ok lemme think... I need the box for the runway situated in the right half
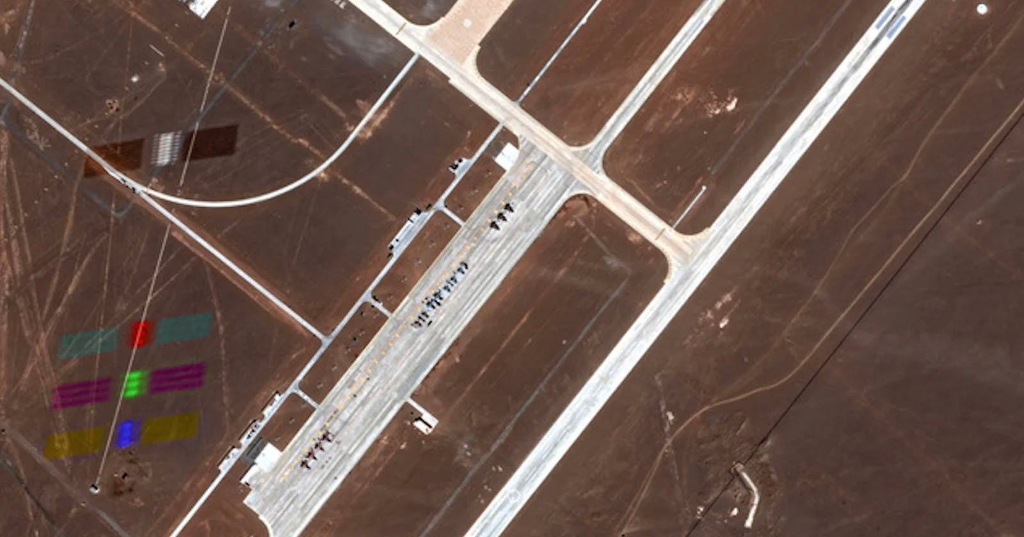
[464,0,925,537]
